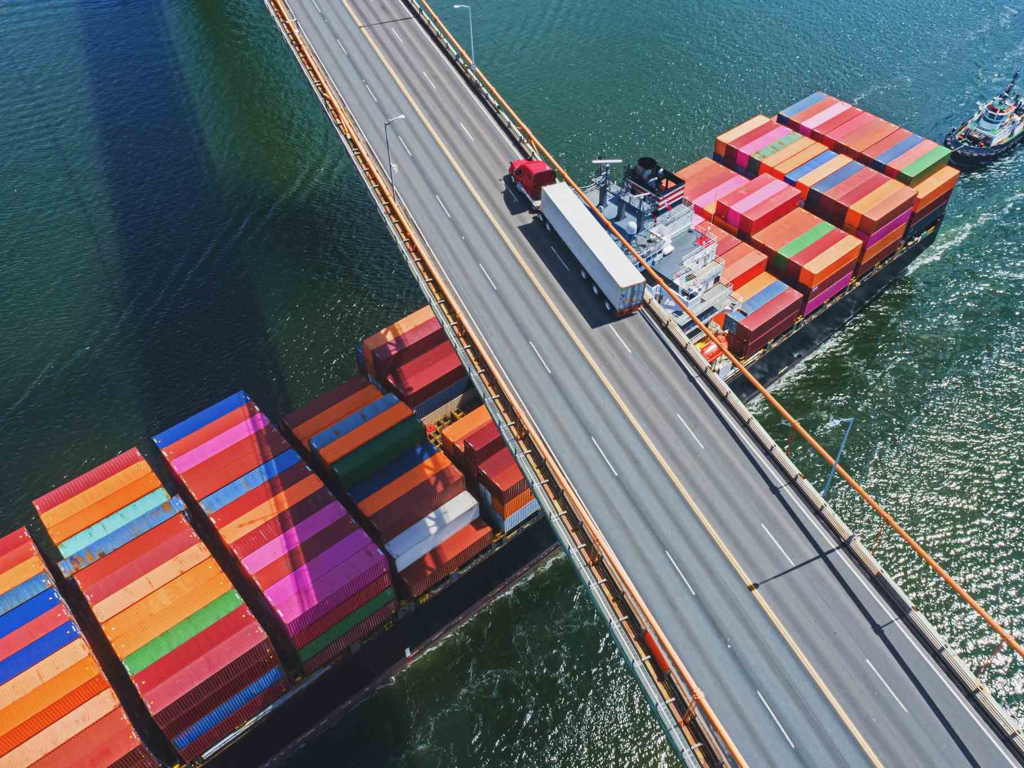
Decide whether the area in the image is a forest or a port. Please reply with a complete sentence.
The area seen from above is a port.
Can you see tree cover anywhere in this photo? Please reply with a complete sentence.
No, the picture contains no tree cover.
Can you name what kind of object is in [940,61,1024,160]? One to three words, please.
boat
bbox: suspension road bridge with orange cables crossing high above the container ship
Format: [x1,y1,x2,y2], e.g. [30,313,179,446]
[257,0,1024,768]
